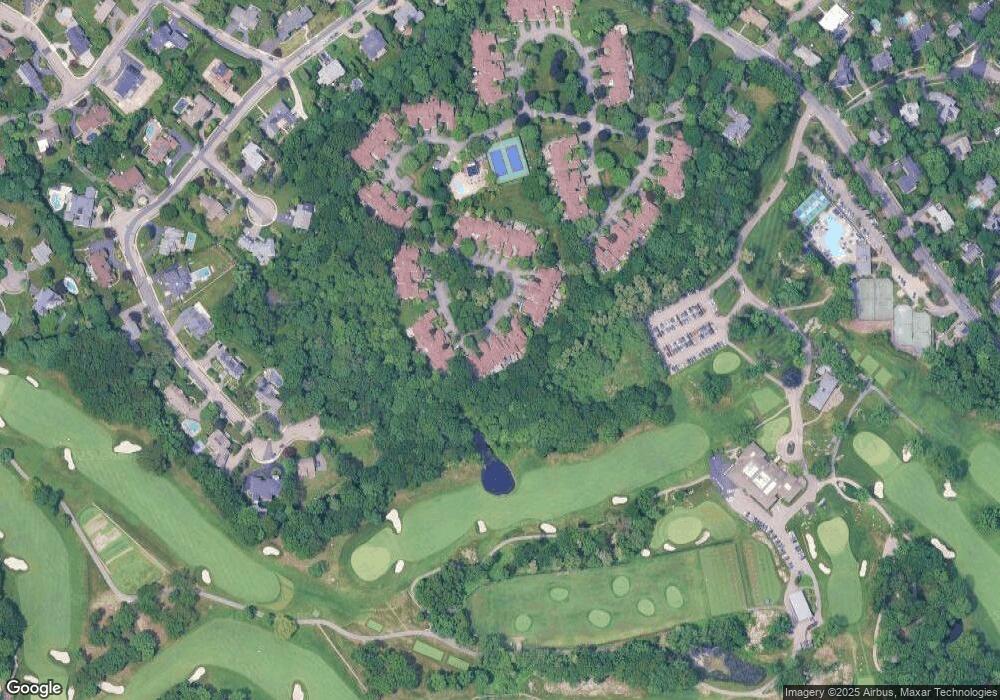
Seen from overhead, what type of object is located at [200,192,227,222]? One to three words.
house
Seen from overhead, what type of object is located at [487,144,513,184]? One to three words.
tennis court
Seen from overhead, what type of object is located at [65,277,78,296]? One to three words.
swimming pool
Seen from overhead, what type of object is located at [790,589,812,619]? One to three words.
barn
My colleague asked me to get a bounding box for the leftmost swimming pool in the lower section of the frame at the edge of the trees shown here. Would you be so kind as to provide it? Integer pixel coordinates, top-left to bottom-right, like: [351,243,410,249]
[183,417,201,436]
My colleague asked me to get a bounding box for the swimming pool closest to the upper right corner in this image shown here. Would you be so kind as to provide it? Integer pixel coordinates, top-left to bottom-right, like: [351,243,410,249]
[896,11,918,30]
